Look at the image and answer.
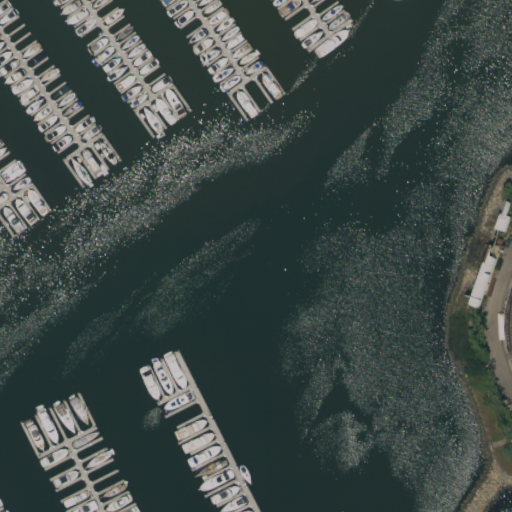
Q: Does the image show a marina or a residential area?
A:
marina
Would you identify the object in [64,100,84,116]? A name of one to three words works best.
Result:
boat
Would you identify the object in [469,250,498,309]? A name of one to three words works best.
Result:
building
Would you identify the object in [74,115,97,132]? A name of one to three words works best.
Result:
boat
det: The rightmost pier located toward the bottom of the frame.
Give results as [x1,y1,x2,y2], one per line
[154,351,260,512]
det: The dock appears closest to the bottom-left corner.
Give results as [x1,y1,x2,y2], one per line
[21,394,136,512]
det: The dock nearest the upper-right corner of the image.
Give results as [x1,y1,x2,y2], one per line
[282,0,351,52]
